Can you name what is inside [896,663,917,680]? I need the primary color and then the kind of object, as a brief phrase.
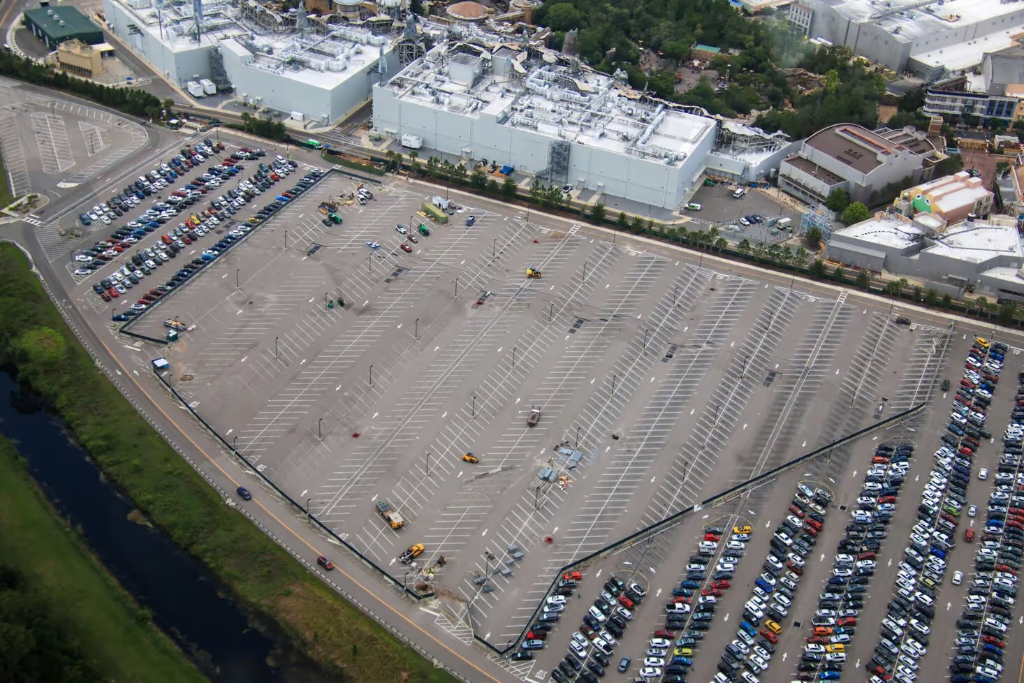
white car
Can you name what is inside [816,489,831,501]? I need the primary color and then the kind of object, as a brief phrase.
gray vehicle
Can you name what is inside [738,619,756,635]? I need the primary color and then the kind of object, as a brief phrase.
blue car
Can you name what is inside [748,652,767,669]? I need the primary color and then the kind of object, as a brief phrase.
white car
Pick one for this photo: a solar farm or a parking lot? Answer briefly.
parking lot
